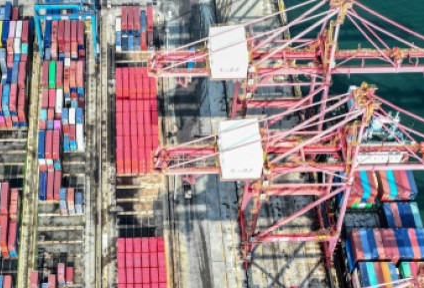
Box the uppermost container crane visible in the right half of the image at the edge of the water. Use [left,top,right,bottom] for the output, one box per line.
[148,0,424,169]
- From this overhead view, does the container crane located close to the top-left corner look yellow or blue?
blue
